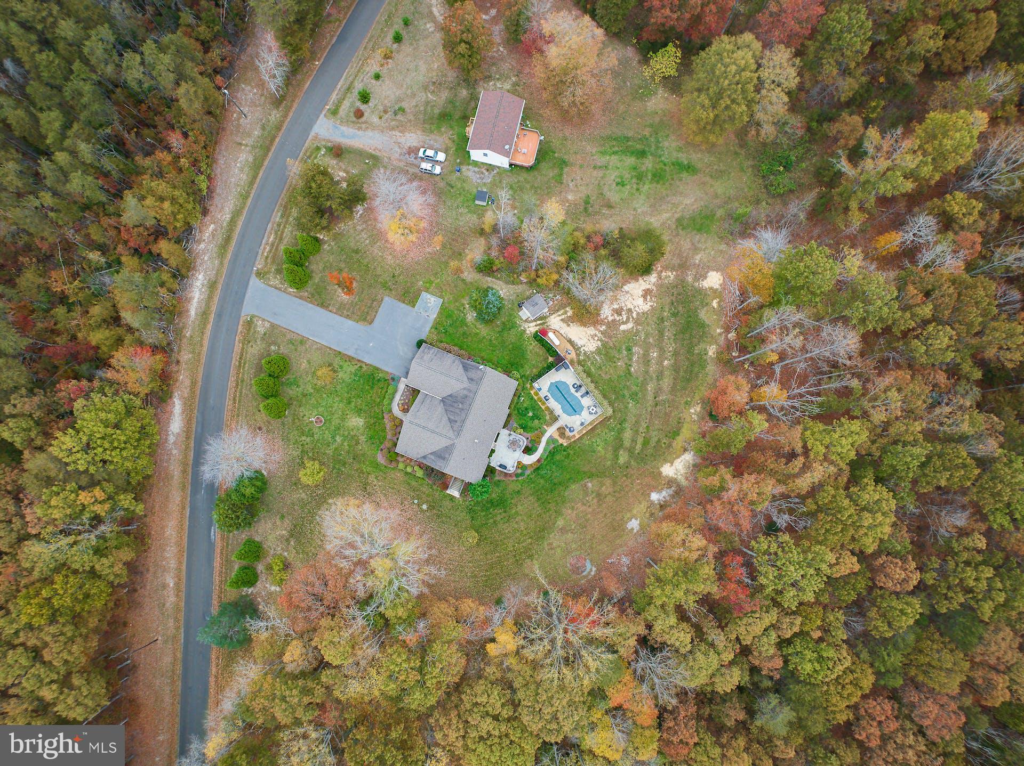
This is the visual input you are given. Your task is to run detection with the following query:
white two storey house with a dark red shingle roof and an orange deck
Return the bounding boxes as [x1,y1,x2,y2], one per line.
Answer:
[466,88,526,168]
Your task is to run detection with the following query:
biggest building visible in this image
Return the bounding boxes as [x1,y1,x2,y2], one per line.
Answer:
[395,343,519,482]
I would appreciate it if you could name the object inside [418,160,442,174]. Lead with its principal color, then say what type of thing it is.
white car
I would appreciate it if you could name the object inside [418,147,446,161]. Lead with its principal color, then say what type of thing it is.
white car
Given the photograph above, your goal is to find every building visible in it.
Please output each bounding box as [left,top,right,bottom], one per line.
[475,187,488,205]
[520,294,548,320]
[395,343,519,482]
[466,88,526,168]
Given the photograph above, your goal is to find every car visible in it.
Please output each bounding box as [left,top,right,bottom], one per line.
[418,147,446,161]
[418,160,442,174]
